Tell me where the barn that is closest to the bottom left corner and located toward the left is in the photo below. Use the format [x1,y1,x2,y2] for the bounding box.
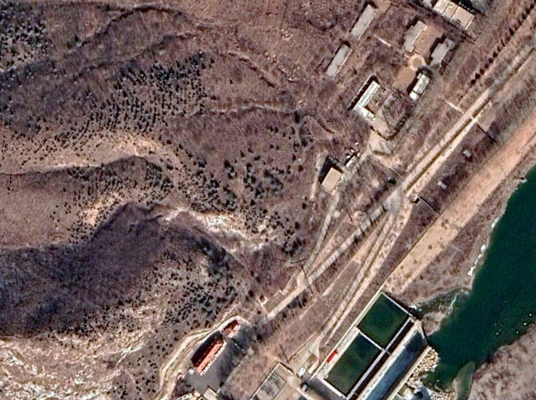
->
[194,340,223,372]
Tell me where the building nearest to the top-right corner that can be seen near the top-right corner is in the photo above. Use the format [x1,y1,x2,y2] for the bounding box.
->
[433,0,474,31]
